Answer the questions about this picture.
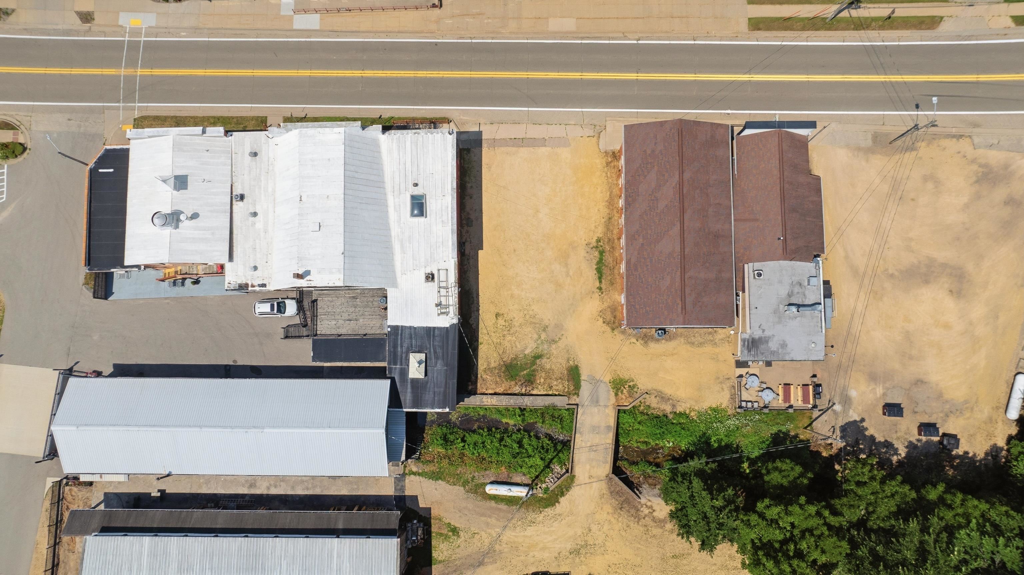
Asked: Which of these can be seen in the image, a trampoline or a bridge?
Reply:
bridge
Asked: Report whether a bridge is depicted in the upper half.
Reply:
No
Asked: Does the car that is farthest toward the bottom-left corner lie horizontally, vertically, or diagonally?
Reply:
horizontally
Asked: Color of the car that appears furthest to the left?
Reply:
white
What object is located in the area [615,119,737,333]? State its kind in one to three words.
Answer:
building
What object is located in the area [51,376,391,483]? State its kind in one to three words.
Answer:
building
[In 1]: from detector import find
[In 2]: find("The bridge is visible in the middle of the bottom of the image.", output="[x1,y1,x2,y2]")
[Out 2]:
[568,406,619,477]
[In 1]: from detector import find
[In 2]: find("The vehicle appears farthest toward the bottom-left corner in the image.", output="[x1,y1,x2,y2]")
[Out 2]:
[254,296,300,317]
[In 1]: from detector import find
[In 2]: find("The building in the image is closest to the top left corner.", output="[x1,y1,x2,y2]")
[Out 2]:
[81,127,233,275]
